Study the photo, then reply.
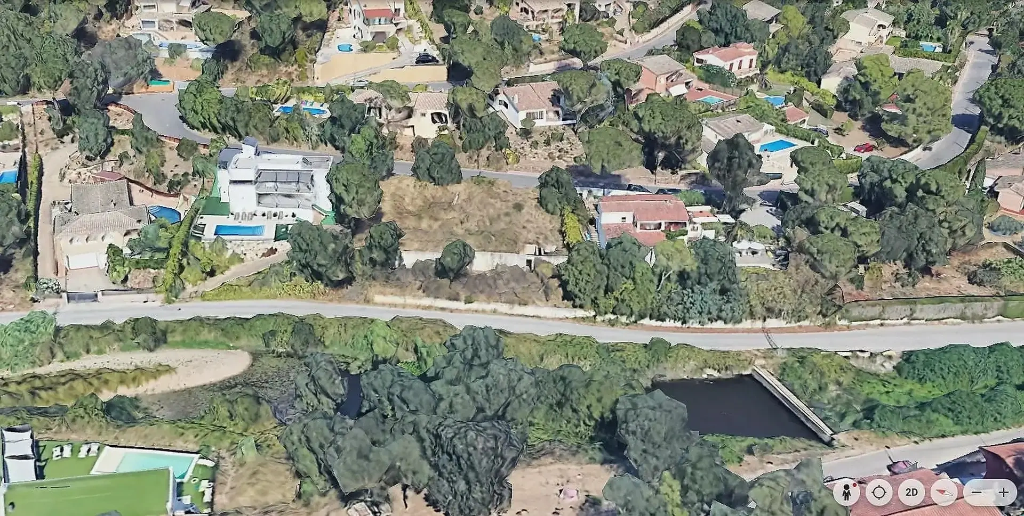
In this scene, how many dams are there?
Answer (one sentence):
The picture shows just 1 dam.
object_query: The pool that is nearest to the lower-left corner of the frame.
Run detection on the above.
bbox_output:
[110,451,197,481]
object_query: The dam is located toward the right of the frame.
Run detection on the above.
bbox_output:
[746,361,844,451]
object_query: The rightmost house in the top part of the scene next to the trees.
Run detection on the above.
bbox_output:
[971,159,1024,217]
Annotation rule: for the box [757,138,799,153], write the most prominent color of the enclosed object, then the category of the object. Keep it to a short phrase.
blue swimming pool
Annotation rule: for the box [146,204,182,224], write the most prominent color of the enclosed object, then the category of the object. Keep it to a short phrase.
blue swimming pool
